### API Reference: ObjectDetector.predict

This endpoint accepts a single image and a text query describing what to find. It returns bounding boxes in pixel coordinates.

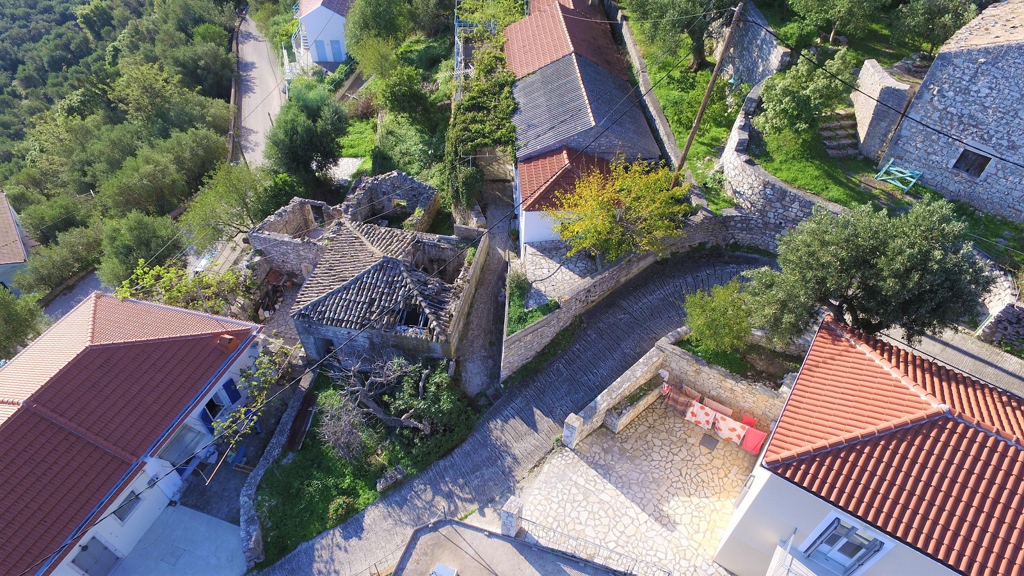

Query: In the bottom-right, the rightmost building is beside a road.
[715,311,1024,576]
